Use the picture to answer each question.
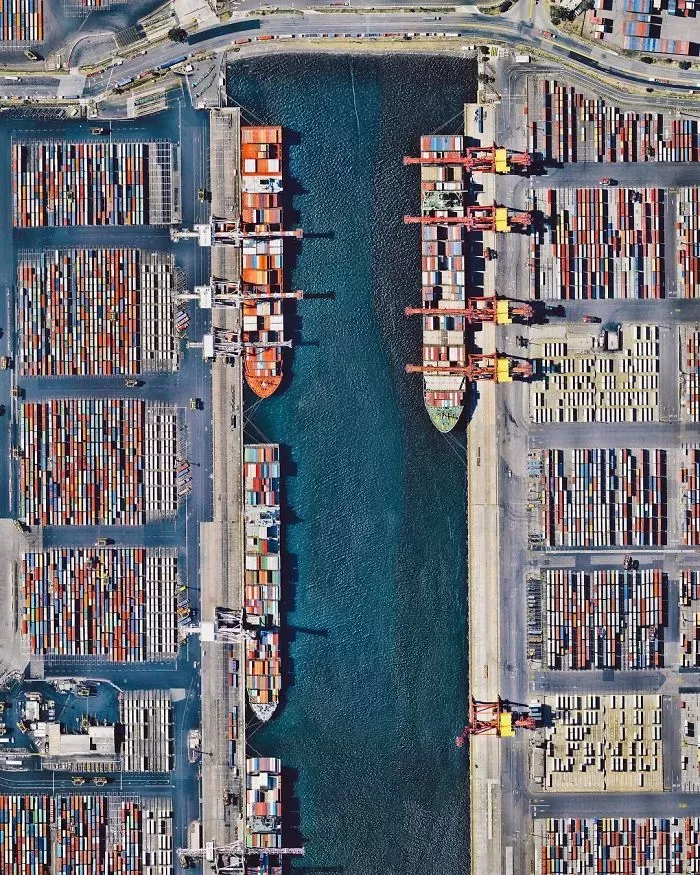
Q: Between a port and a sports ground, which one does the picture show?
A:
port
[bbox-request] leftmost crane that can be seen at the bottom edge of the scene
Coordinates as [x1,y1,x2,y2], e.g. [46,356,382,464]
[182,837,311,875]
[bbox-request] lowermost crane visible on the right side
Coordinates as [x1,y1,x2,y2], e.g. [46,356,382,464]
[461,696,538,738]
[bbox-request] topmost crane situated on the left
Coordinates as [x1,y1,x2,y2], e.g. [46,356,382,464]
[168,219,303,254]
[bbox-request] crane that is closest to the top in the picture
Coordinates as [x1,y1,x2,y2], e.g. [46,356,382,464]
[401,146,534,180]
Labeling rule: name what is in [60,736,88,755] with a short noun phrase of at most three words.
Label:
building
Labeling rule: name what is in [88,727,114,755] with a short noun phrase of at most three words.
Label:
building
